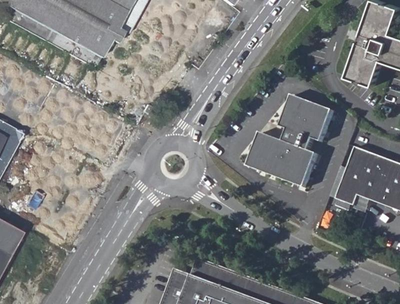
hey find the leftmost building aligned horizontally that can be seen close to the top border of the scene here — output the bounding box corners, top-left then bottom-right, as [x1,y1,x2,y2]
[4,0,138,58]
